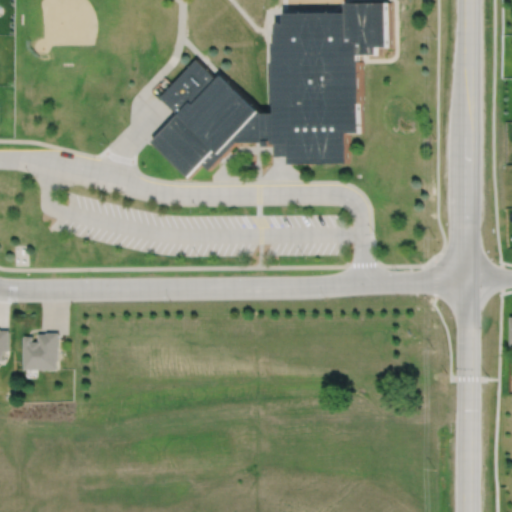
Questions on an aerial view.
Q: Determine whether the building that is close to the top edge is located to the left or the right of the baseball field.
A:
on its right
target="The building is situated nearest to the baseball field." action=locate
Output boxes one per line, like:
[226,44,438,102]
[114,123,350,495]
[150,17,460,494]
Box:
[152,0,390,177]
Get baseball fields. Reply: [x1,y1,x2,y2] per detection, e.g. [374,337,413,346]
[25,0,98,59]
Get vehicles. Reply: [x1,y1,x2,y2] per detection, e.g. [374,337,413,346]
[302,216,310,228]
[318,215,326,226]
[62,152,74,158]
